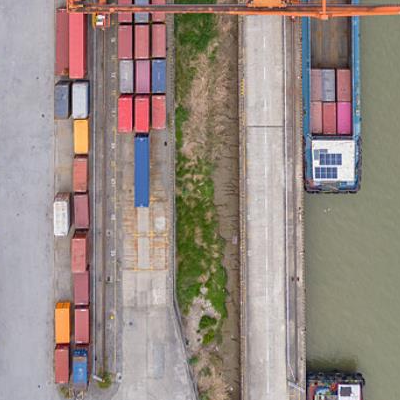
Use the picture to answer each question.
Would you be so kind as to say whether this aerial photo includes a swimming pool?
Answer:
No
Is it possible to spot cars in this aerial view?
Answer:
No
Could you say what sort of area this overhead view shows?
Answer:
port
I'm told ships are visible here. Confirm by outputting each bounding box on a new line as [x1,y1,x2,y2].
[306,367,367,400]
[303,0,364,195]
